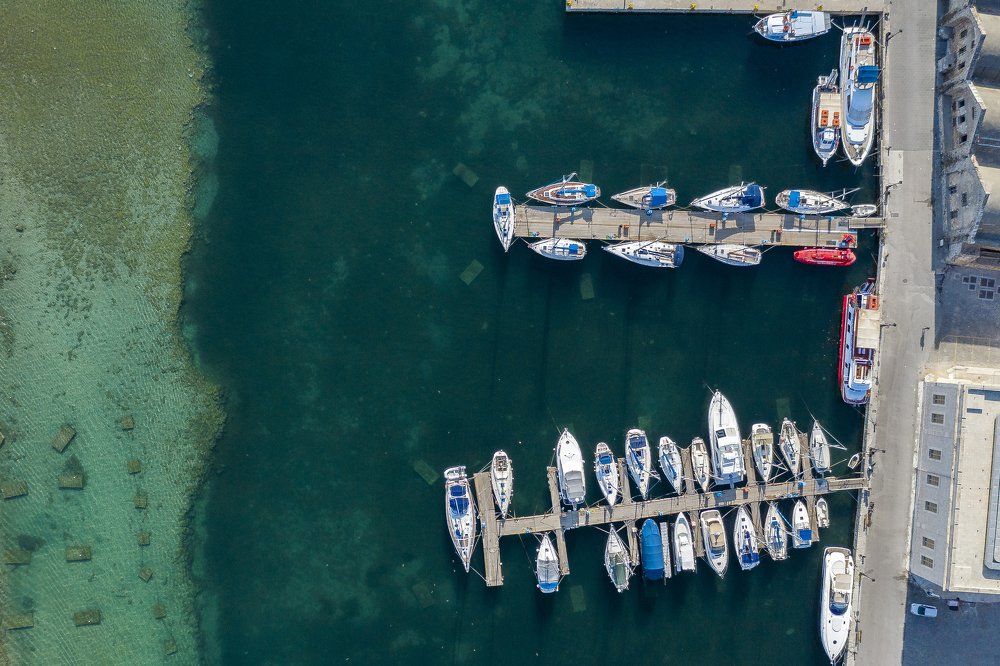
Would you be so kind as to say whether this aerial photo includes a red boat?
Yes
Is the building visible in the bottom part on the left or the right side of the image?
right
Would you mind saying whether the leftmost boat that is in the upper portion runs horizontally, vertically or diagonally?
vertically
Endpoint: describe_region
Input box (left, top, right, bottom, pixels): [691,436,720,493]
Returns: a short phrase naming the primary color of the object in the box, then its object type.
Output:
white boat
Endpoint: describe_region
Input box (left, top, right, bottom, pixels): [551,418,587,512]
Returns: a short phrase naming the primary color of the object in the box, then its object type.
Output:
white boat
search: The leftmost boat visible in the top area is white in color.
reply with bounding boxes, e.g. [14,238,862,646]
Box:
[492,183,522,252]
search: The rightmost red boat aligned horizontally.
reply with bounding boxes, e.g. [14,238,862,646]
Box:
[792,247,857,266]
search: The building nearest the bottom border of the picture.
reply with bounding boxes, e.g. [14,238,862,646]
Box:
[911,382,1000,597]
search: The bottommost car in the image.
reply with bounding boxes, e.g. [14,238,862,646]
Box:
[911,603,941,619]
